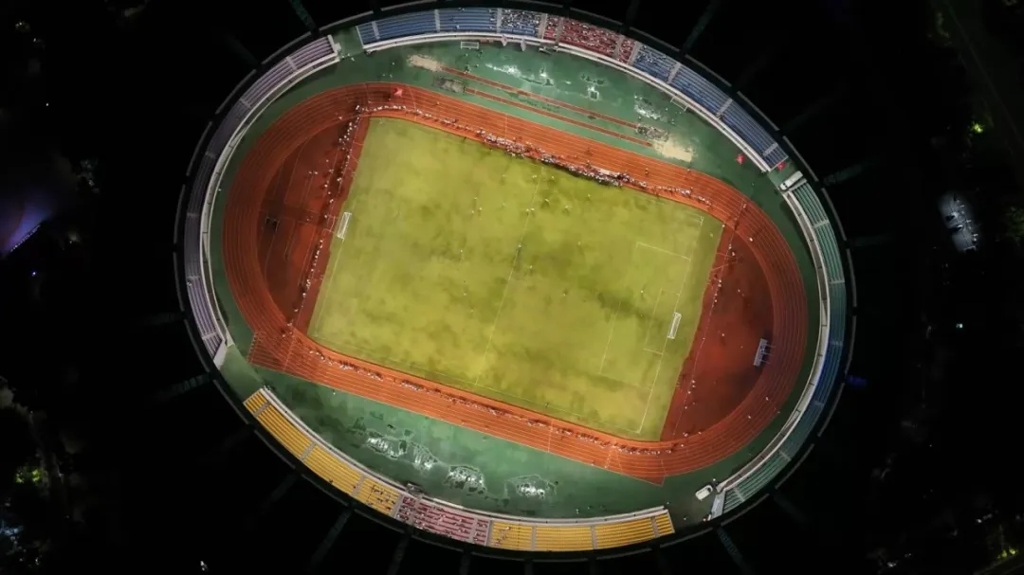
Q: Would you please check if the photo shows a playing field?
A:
Yes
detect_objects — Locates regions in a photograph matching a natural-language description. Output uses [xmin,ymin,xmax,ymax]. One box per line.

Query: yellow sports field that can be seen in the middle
[309,116,724,443]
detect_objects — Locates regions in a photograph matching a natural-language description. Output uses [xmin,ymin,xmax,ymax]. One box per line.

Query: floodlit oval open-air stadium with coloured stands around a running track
[134,0,896,575]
